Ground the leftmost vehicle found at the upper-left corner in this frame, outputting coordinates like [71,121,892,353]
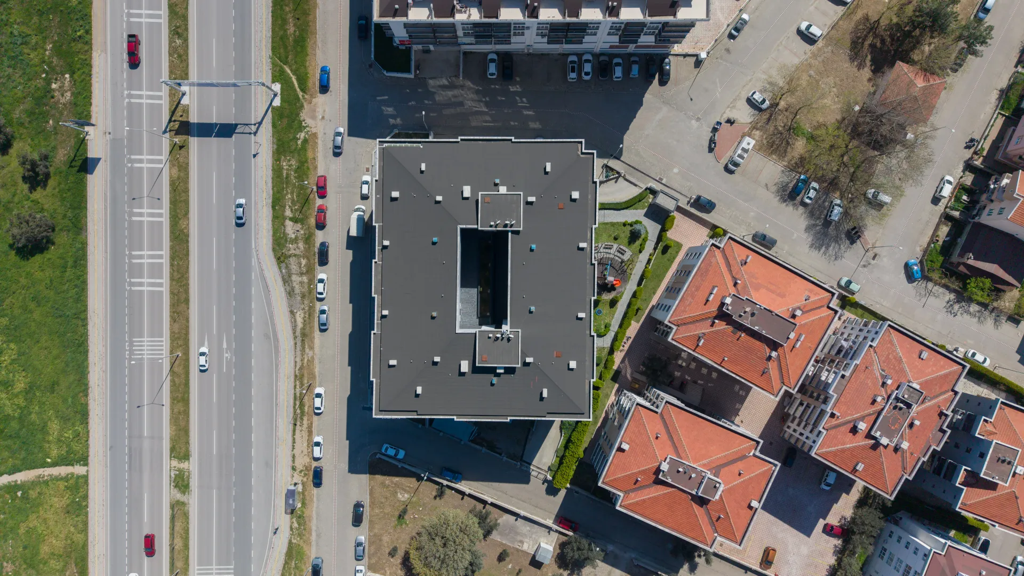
[126,36,141,66]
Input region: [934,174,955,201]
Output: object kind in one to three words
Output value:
vehicle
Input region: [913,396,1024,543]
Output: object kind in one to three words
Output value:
building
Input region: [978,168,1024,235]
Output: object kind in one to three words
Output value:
house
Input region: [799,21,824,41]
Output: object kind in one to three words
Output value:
car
